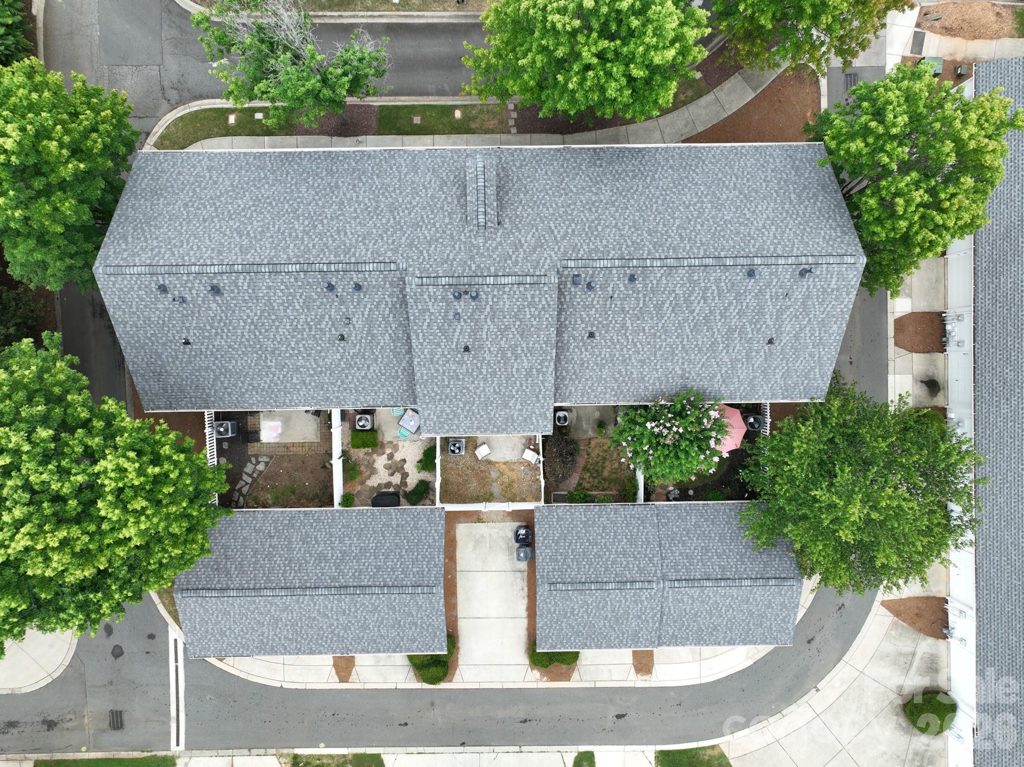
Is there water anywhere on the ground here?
No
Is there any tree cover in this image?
Yes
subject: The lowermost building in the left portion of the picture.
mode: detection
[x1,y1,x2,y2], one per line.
[174,504,448,660]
